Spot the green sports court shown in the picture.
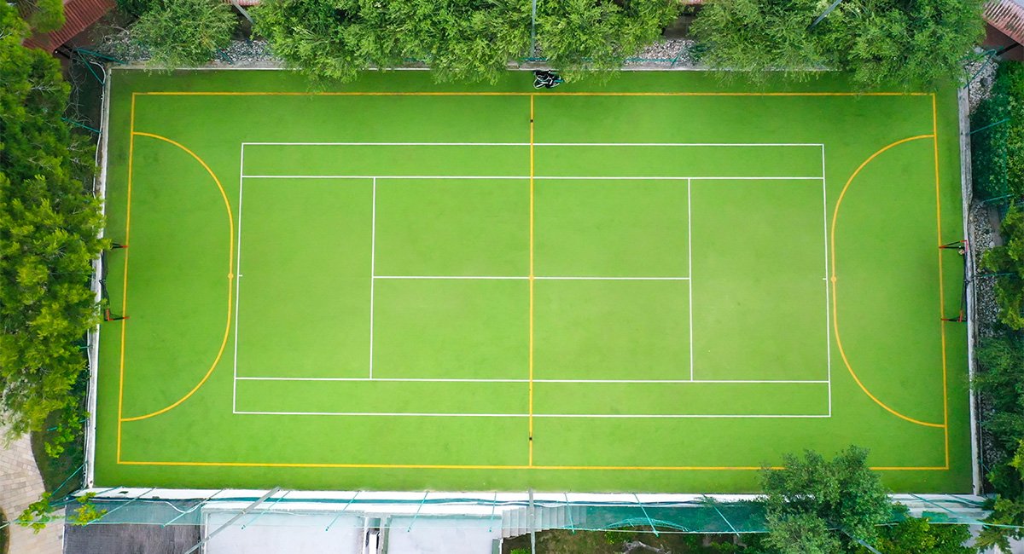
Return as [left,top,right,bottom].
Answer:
[94,69,973,494]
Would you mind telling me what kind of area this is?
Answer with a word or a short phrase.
sports ground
